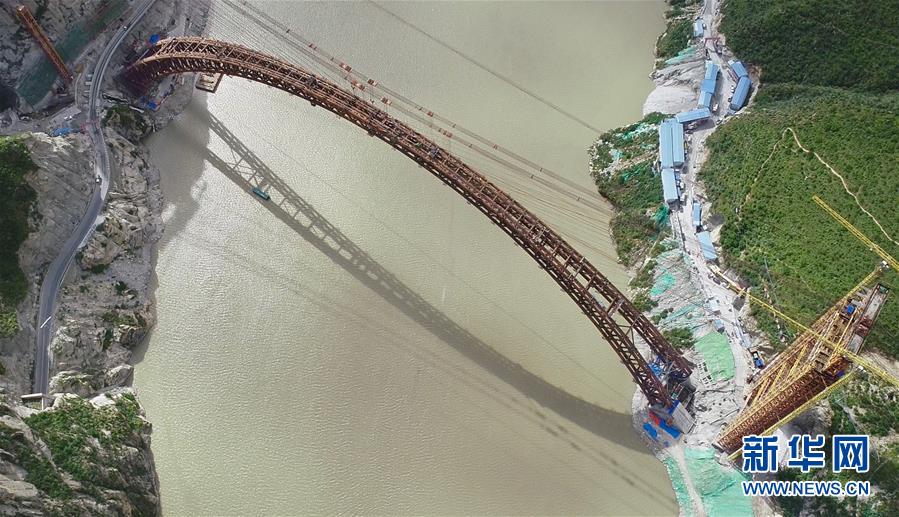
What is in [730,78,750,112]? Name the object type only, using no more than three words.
shed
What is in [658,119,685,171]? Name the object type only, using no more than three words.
shed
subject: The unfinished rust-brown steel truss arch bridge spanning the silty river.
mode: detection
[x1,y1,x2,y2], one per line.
[117,37,705,420]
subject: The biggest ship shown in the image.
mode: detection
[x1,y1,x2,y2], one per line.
[191,70,224,97]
